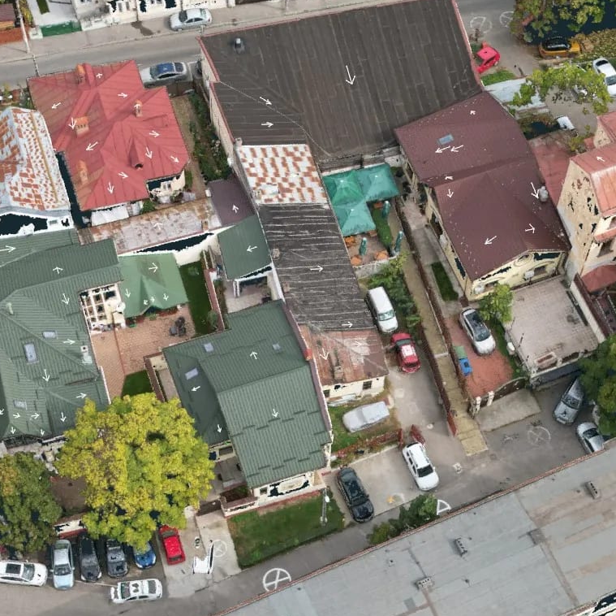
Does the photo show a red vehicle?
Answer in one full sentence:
Yes, there is a red vehicle in the image.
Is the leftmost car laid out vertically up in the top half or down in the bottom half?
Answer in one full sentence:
You can find the leftmost car laid out vertically in the bottom half.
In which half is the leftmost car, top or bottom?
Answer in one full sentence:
The bottom half of the photo is where the leftmost car is.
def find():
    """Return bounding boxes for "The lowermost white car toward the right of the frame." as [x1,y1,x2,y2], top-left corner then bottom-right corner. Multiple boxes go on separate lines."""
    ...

[404,443,436,493]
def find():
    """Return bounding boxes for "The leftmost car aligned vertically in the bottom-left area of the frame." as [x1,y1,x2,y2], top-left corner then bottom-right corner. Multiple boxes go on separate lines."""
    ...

[49,541,74,591]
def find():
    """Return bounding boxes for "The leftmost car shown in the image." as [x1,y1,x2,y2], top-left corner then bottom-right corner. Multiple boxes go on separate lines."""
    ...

[0,560,47,588]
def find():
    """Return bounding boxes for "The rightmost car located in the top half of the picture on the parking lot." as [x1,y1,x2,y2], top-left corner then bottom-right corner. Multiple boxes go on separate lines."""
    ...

[592,61,616,96]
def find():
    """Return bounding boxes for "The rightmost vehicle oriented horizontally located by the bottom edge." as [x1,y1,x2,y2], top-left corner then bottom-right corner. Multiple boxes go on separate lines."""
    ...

[110,579,162,605]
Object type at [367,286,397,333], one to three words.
car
